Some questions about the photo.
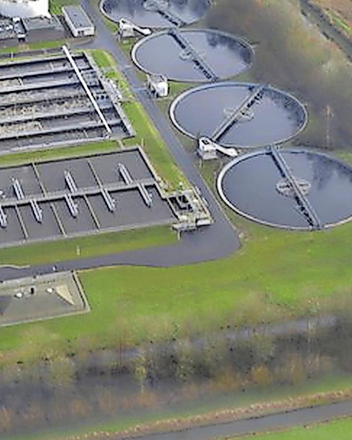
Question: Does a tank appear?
Yes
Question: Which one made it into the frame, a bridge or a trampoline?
bridge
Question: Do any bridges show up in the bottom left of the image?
No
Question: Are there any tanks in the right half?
Yes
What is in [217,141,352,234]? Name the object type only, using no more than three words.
storage tank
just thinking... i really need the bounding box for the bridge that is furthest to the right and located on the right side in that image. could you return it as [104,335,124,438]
[269,141,322,230]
